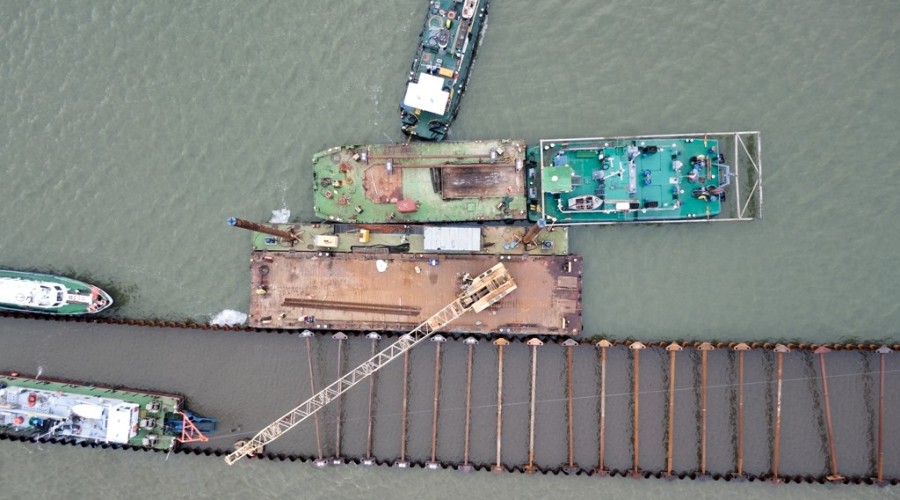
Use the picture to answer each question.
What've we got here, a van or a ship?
ship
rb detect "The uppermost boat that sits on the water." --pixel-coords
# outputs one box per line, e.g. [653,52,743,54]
[399,0,491,142]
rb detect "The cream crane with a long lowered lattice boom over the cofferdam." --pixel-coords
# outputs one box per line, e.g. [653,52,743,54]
[225,263,517,464]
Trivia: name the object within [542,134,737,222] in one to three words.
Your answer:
boat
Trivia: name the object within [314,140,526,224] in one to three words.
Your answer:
ship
